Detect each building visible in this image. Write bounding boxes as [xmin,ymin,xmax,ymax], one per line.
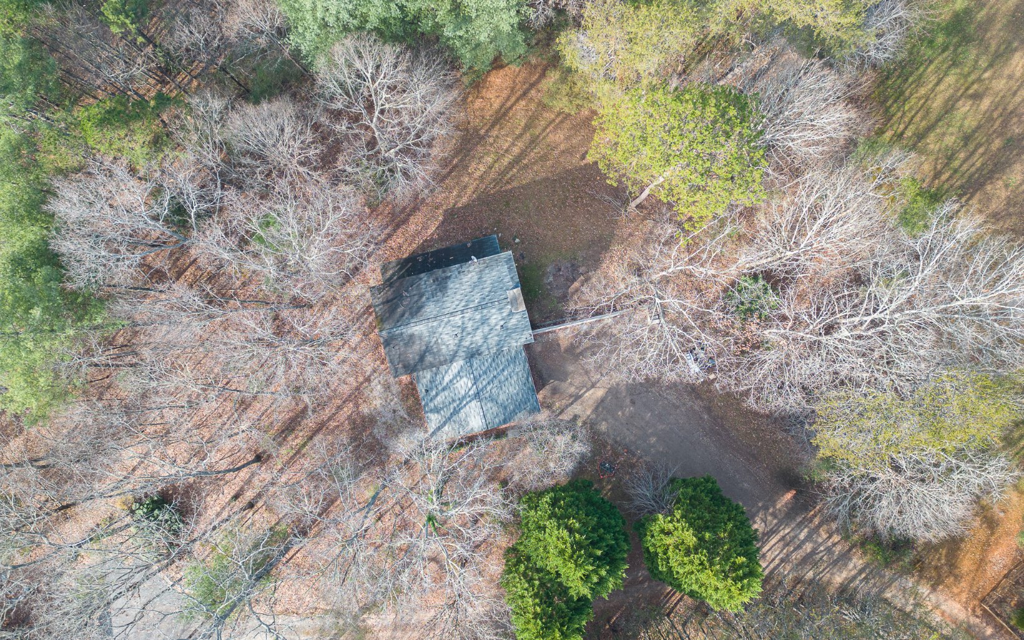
[370,235,542,439]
